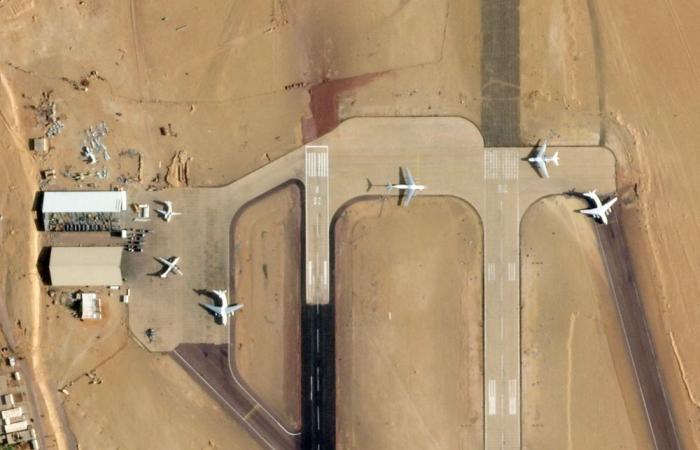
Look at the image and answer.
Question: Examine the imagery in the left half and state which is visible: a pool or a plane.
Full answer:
The feature located in the left half is a plane.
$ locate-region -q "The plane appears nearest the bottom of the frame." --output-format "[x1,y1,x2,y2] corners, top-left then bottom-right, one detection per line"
[204,291,244,326]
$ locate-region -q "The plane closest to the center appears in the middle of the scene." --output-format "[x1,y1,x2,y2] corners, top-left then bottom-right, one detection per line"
[388,167,426,207]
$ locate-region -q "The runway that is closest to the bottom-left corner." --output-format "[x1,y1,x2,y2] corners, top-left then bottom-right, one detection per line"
[300,146,336,450]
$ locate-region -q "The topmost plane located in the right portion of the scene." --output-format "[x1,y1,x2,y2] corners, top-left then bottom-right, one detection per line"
[528,140,558,178]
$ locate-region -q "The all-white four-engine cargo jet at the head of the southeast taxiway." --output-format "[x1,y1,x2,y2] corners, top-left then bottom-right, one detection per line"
[579,189,615,224]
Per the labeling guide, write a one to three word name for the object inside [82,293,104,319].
building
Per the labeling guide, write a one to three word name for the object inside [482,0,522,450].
runway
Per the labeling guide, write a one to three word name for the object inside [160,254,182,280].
airplane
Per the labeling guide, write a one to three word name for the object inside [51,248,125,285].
hangar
